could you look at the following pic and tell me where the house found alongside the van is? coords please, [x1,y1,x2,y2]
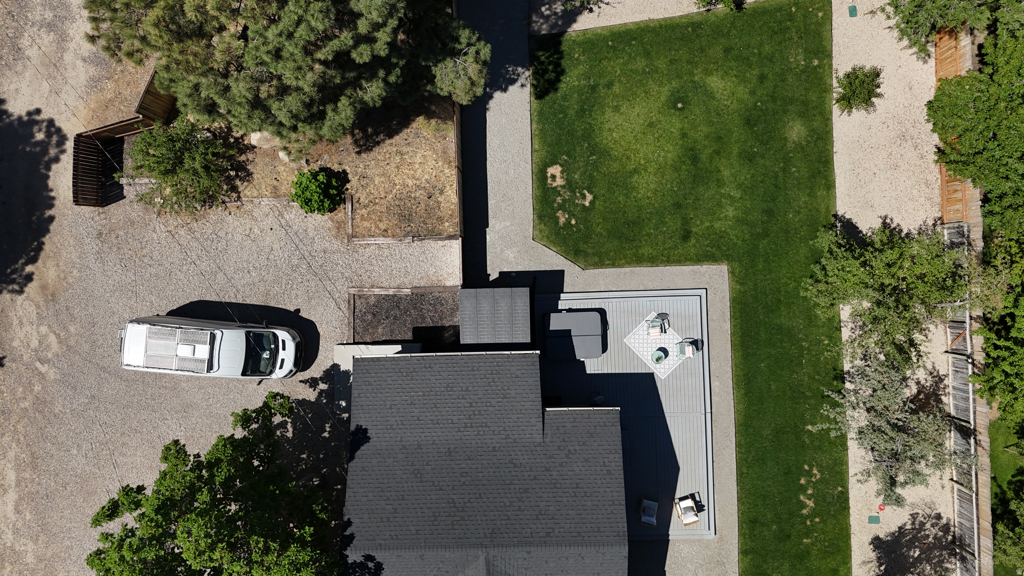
[343,348,628,576]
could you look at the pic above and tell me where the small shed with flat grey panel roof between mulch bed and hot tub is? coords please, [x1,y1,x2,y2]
[459,287,531,344]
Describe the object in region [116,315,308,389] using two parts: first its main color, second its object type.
white van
